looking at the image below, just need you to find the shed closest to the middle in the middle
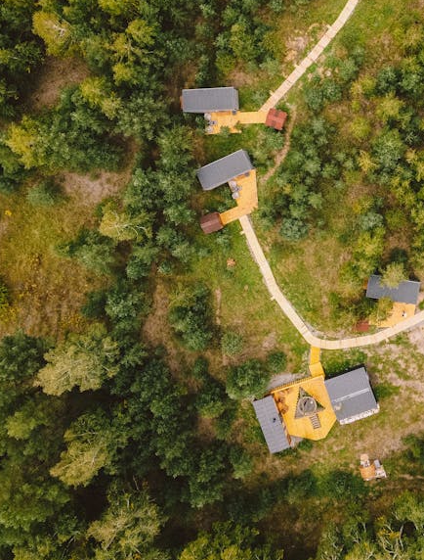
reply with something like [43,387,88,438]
[201,212,225,234]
